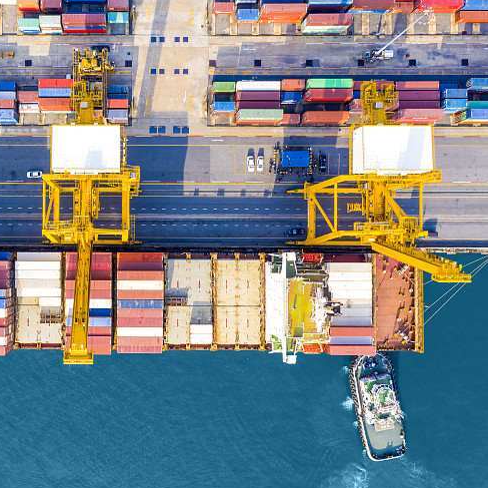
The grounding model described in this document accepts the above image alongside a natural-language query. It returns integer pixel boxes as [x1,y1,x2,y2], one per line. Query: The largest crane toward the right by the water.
[280,76,472,282]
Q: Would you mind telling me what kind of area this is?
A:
port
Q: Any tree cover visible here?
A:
No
